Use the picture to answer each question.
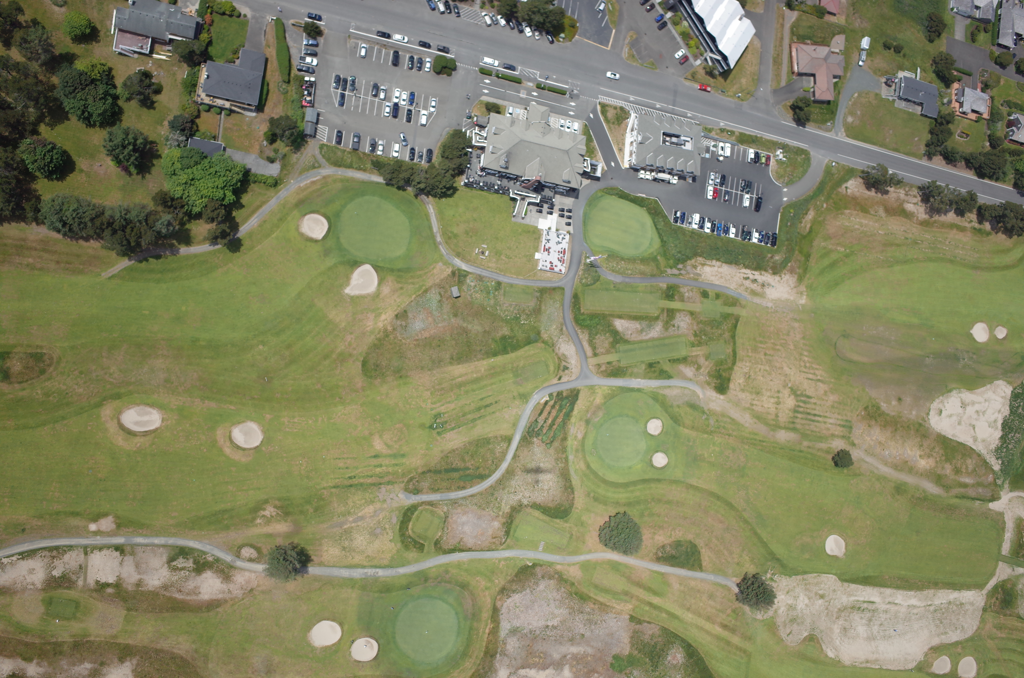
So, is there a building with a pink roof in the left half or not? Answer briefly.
No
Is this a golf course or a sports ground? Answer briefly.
golf course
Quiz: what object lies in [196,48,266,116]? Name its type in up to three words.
house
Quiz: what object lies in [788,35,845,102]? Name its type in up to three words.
house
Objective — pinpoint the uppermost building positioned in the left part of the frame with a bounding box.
[114,0,202,57]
